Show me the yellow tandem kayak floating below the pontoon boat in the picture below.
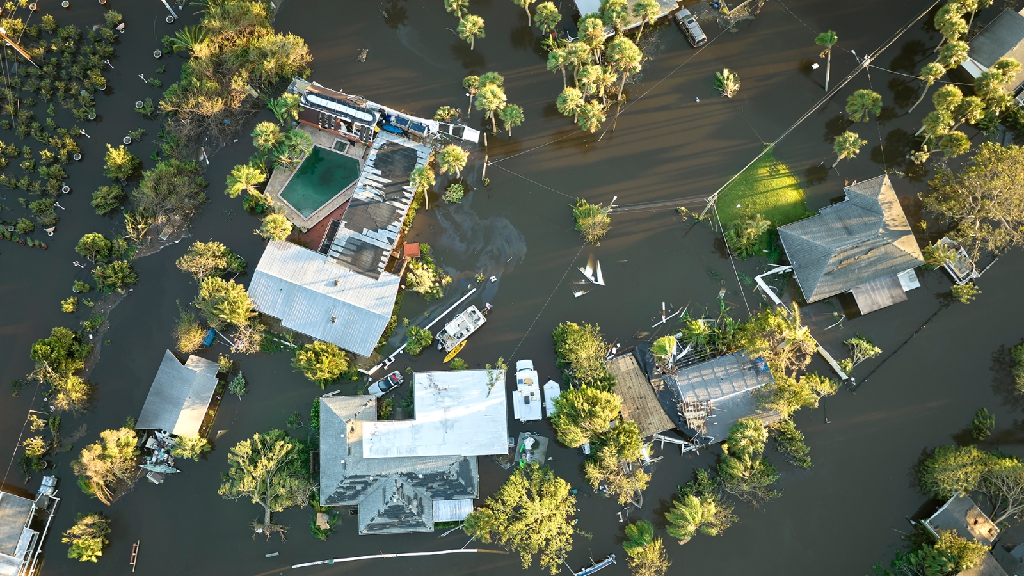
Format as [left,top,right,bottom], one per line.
[444,341,466,363]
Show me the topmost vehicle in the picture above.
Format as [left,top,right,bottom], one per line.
[676,10,705,49]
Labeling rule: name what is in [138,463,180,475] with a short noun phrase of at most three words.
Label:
boat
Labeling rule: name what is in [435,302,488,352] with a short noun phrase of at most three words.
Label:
boat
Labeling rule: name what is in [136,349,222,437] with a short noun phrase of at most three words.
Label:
house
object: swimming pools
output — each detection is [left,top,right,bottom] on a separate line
[276,143,363,222]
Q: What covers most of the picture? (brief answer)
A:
water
